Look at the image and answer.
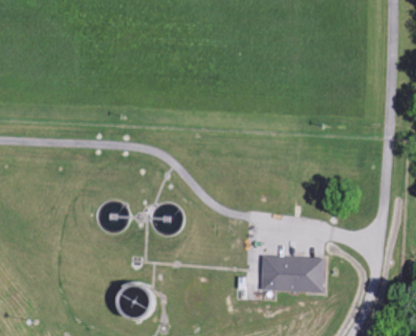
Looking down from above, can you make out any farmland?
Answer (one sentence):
Yes, farmland can be seen from above here.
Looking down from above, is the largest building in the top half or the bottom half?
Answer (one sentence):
It is in the bottom half that the largest building appears.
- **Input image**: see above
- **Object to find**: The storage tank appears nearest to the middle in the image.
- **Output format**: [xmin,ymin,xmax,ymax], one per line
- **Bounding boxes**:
[151,200,186,236]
